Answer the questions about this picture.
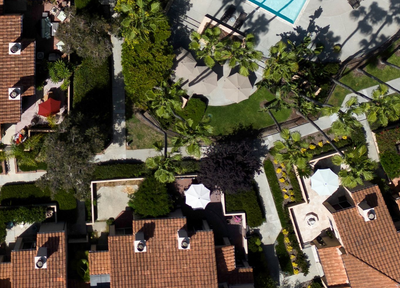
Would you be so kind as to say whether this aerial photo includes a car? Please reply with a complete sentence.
No, the photo shows no car.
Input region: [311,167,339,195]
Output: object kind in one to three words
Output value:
umbrella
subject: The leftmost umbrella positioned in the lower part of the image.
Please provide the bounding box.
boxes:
[187,185,211,209]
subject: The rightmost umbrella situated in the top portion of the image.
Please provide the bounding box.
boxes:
[223,73,253,102]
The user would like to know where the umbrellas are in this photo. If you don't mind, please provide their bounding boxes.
[170,49,197,75]
[223,73,253,102]
[311,167,339,195]
[187,185,211,209]
[42,95,59,116]
[188,66,217,95]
